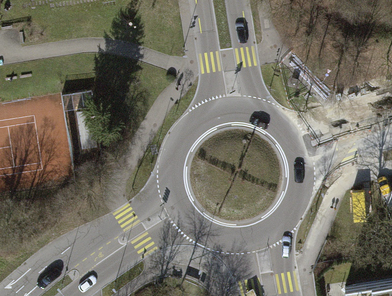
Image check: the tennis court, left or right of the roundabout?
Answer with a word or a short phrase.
to the left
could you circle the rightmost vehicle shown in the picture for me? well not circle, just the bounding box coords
[378,178,392,214]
